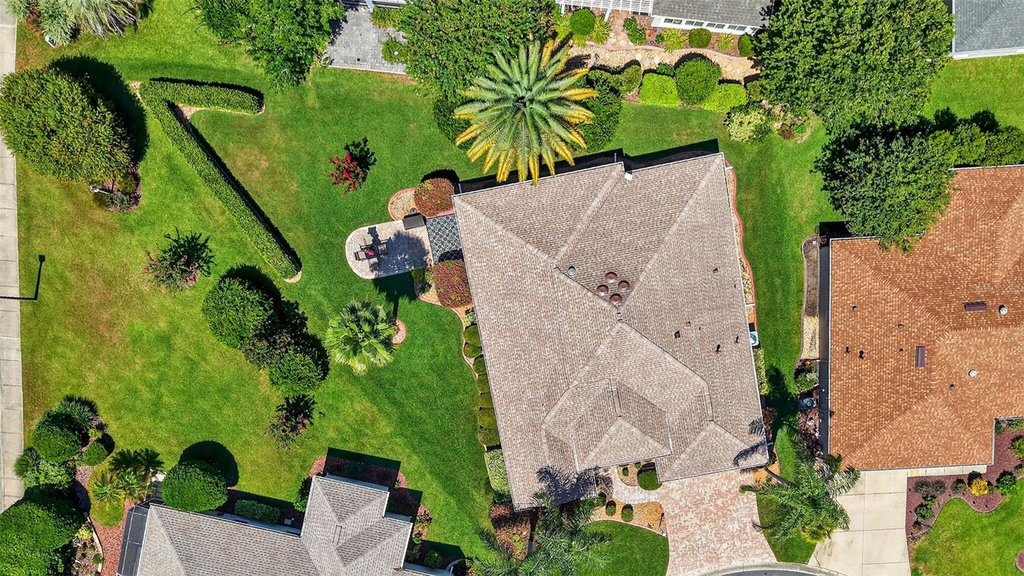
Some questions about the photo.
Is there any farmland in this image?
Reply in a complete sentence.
No, the picture contains no farmland.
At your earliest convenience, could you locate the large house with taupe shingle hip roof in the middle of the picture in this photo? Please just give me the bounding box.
[452,152,770,511]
